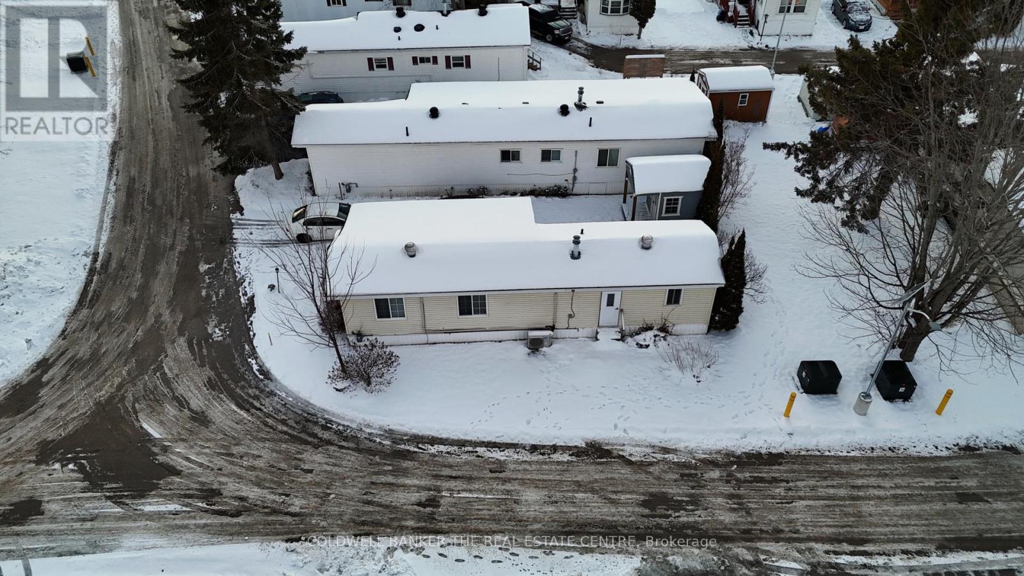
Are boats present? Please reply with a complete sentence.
No, I can't see a single boat in this photo.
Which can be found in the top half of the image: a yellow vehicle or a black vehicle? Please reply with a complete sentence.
There is a black vehicle in the top half of the image.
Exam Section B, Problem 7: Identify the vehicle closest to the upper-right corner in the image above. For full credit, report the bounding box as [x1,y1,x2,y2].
[833,0,879,28]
